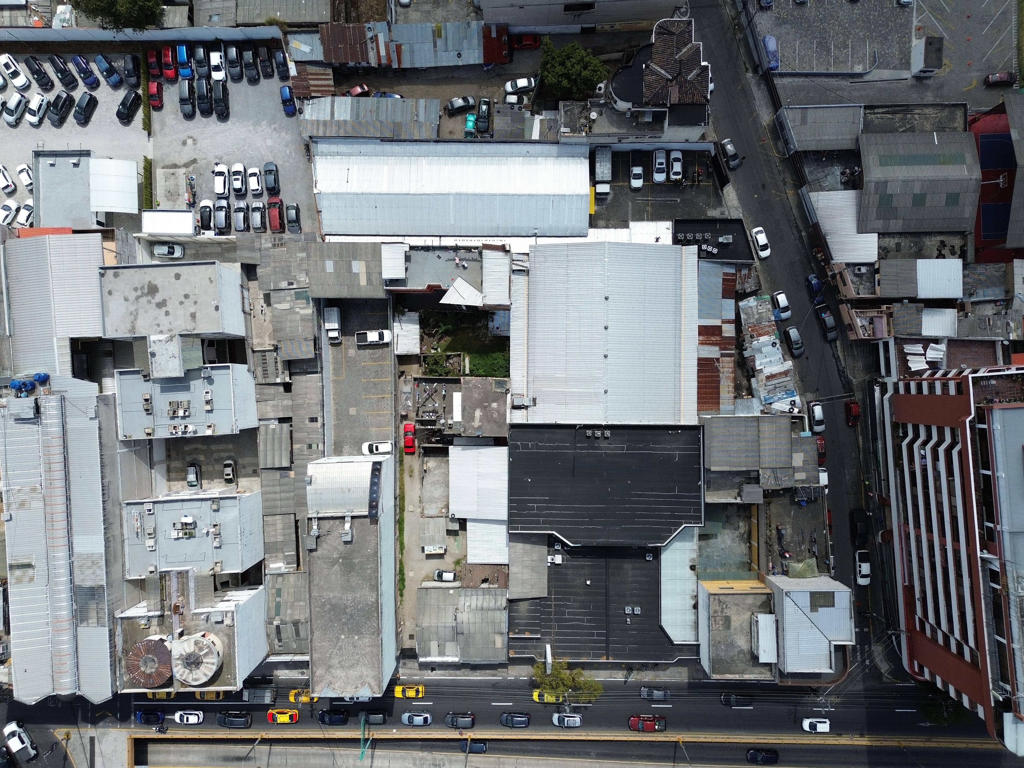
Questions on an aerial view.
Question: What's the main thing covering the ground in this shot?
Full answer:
The scene is dominated by buildings.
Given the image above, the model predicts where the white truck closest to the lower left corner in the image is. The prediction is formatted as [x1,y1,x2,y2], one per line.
[7,724,34,761]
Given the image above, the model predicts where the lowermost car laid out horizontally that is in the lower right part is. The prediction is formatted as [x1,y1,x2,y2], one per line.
[747,748,779,764]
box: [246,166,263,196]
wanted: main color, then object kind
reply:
white car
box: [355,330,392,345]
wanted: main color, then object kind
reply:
white vehicle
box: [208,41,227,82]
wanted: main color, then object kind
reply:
white vehicle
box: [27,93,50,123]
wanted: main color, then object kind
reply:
white car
